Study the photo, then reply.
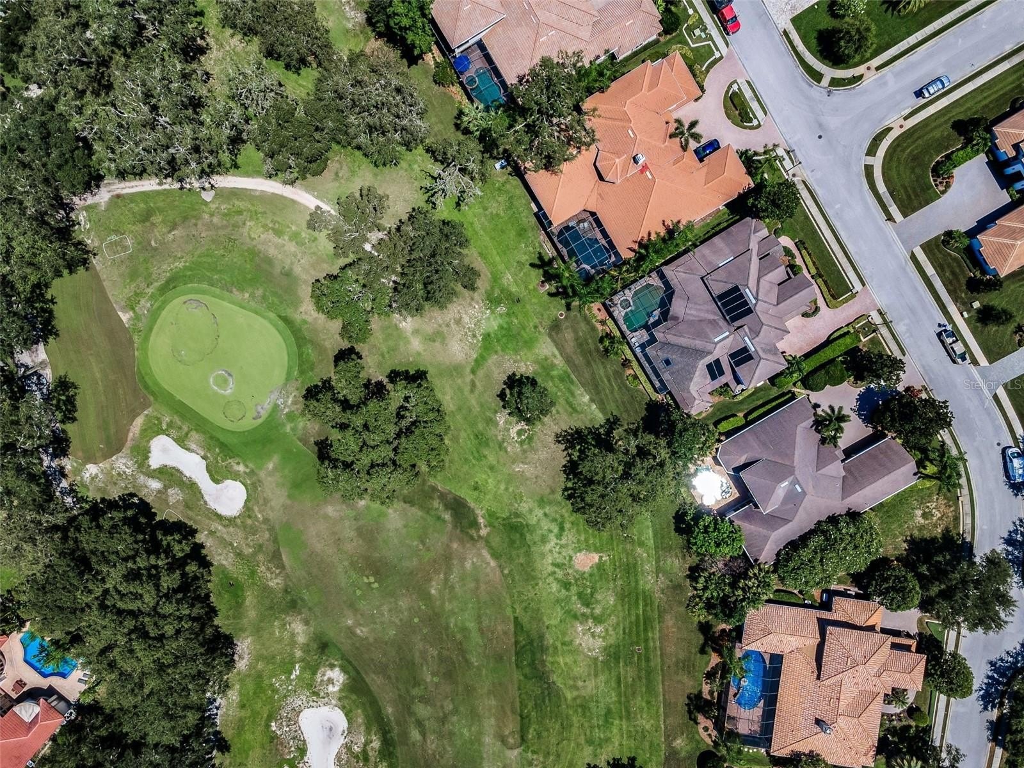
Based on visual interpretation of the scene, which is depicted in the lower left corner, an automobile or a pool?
pool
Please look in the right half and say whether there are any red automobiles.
Yes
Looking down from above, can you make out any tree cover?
Yes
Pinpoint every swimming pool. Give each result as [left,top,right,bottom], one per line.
[556,224,612,284]
[691,465,733,506]
[465,66,507,105]
[731,650,767,711]
[20,632,72,679]
[618,283,666,333]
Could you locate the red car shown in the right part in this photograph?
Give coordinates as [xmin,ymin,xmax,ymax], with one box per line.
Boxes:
[715,4,741,39]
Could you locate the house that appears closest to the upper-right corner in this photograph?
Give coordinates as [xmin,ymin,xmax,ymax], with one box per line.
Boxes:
[981,110,1024,200]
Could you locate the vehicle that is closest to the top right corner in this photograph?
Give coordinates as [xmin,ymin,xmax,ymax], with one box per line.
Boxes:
[910,74,952,104]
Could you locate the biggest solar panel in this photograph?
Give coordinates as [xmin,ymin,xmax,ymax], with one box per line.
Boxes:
[716,284,754,323]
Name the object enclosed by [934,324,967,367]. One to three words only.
truck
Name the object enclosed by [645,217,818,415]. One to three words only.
house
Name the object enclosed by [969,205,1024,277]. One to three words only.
house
